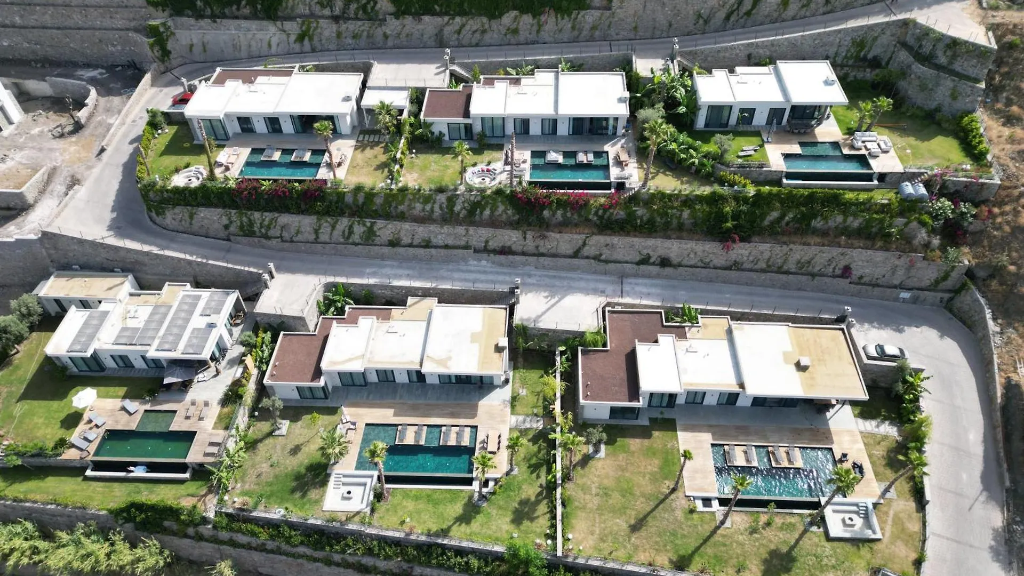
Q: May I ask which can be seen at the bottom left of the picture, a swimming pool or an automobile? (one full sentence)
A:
There is a swimming pool at the bottom left of the picture.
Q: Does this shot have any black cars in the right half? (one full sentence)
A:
No, in the right half there is no black car.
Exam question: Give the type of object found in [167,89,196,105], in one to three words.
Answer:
car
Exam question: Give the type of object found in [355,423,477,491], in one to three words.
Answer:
swimming pool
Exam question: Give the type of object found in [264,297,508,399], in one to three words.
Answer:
house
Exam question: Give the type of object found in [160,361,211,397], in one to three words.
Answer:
umbrella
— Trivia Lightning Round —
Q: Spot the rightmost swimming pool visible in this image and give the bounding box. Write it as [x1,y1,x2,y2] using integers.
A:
[781,142,882,195]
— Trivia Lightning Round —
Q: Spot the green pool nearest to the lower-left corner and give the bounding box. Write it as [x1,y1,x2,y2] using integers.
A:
[84,410,197,484]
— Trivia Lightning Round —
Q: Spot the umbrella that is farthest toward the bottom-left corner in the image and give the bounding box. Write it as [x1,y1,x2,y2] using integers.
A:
[70,388,100,412]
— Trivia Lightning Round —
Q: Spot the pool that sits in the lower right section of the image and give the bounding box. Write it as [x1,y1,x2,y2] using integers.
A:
[710,442,849,517]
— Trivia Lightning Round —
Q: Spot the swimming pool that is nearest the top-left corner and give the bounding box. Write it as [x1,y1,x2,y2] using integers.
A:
[237,148,325,188]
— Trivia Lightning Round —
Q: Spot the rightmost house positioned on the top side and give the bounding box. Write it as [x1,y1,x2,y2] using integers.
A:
[686,57,853,127]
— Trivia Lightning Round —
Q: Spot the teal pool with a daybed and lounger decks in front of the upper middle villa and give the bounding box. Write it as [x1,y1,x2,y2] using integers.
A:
[530,150,611,204]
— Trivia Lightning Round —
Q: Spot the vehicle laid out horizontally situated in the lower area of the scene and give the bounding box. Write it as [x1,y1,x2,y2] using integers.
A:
[863,342,912,363]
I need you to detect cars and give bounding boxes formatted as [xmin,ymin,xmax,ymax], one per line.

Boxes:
[167,89,196,105]
[863,342,912,363]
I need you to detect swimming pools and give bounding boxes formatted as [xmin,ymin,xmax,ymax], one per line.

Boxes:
[530,150,611,204]
[84,410,197,484]
[710,442,849,517]
[237,148,325,188]
[781,142,882,195]
[355,423,477,491]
